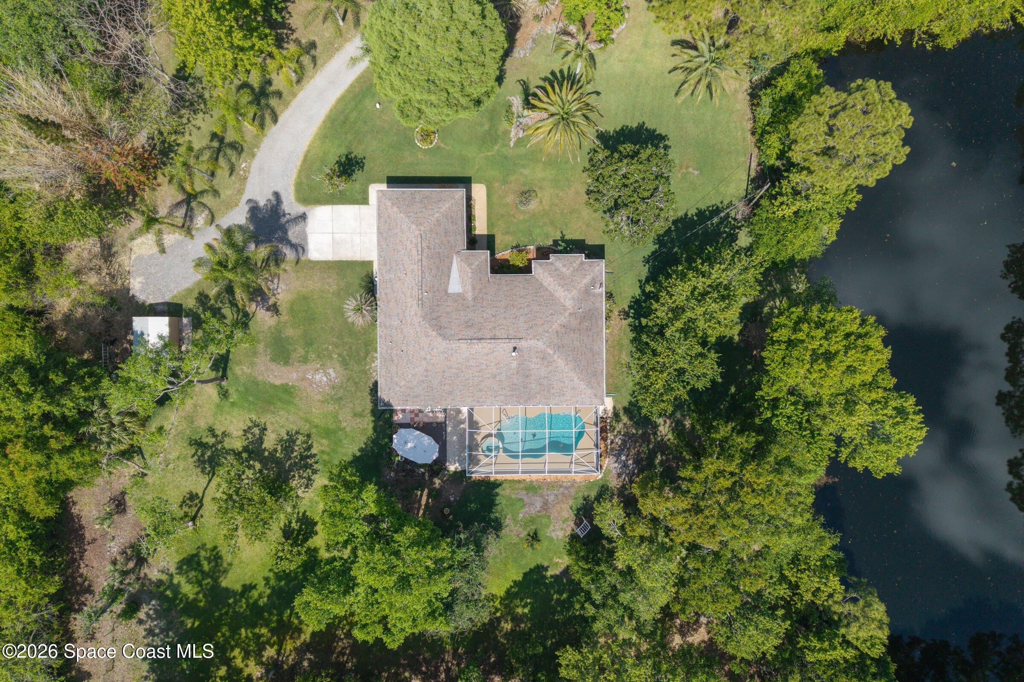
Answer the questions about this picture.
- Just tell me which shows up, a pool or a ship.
pool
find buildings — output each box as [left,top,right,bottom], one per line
[375,187,607,409]
[132,316,179,355]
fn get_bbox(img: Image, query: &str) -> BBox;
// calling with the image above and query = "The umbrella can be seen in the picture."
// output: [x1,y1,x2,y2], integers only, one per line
[393,429,439,464]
